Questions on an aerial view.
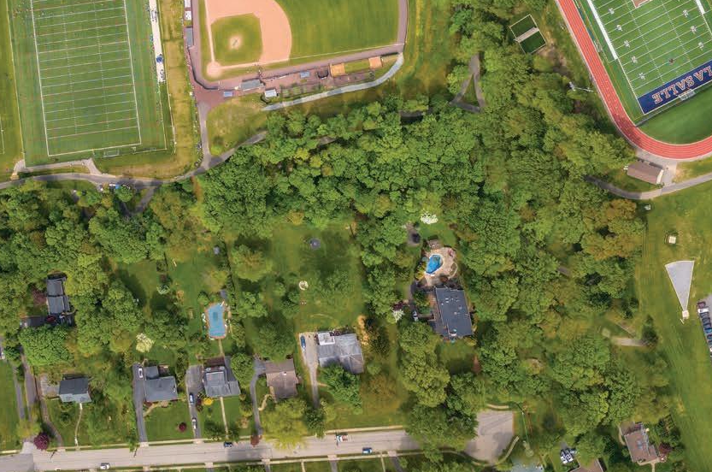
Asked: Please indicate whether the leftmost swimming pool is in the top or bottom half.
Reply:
bottom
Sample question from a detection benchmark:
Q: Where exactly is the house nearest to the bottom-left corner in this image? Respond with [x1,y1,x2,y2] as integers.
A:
[58,377,91,402]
